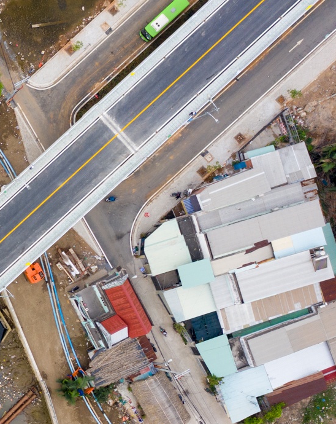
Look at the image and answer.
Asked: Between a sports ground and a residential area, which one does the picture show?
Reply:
residential area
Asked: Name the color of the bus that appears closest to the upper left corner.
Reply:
green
